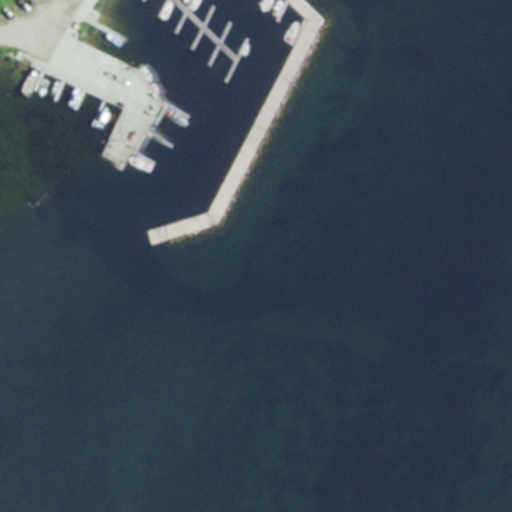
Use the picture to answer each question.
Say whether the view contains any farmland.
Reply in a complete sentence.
No, the picture contains no farmland.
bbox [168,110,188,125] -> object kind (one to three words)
boat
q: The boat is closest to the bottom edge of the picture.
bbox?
[129,155,157,174]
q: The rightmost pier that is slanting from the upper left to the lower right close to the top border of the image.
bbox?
[158,0,250,83]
